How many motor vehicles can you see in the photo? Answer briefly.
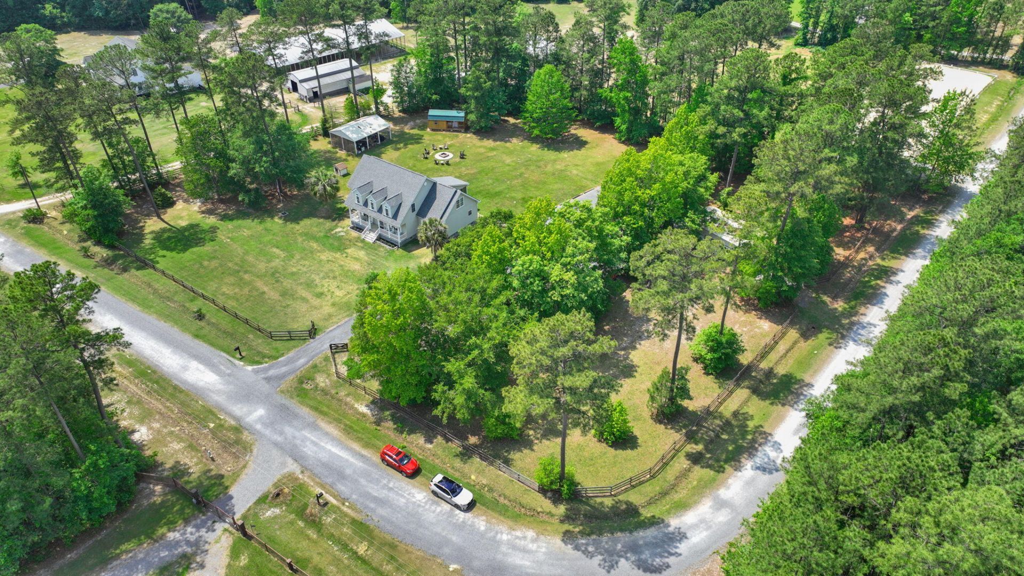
two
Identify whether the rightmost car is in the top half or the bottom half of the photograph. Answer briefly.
bottom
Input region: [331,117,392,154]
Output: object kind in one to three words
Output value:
shed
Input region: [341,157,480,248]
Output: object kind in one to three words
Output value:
house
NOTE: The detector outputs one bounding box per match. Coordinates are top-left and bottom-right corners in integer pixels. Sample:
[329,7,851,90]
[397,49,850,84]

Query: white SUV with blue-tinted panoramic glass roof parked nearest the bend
[432,468,479,504]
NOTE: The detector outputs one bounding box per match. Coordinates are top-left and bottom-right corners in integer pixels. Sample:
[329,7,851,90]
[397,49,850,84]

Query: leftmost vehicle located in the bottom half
[383,439,428,473]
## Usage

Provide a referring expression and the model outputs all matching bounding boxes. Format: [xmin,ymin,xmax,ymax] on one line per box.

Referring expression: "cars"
[383,439,428,473]
[432,468,479,504]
